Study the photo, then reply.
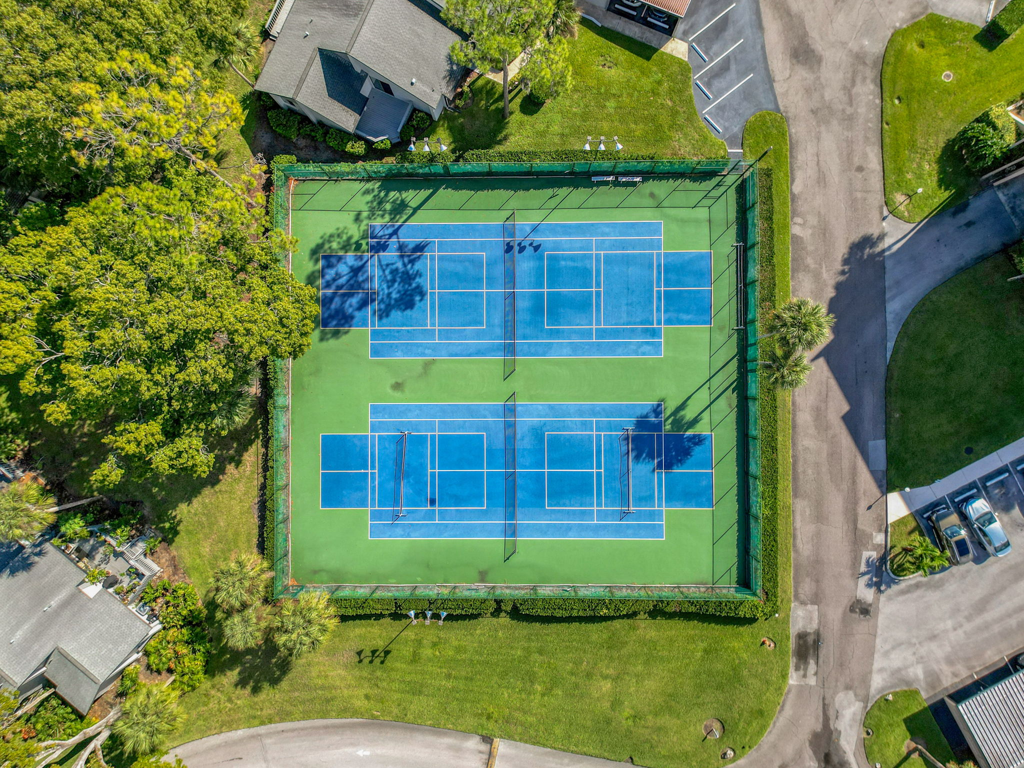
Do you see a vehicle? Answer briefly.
Yes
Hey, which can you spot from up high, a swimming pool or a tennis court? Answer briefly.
tennis court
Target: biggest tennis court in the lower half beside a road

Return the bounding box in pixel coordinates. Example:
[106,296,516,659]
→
[289,380,746,586]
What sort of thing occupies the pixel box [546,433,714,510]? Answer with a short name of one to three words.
sports court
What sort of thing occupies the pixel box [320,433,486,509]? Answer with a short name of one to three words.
sports court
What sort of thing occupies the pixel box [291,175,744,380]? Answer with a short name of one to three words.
tennis court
